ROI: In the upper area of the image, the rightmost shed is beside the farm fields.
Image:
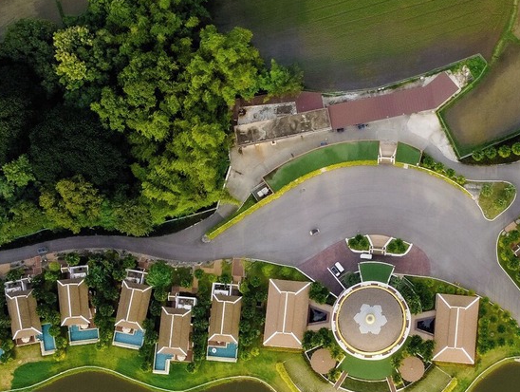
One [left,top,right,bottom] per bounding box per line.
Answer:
[328,71,459,131]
